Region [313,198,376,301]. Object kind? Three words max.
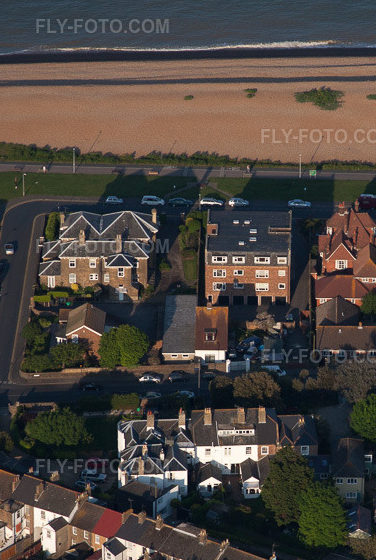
house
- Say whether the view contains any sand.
Yes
